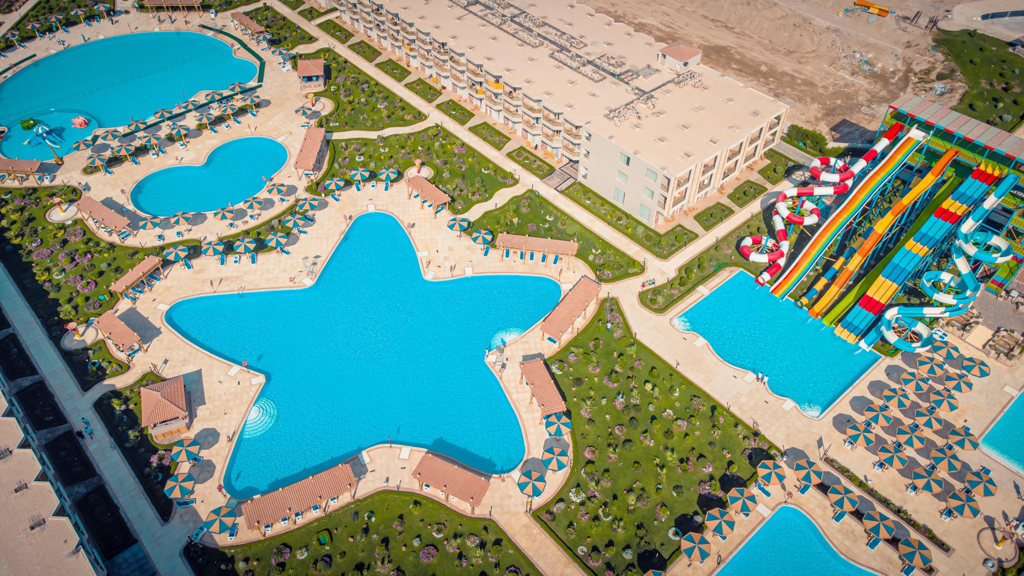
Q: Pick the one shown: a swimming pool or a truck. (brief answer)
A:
swimming pool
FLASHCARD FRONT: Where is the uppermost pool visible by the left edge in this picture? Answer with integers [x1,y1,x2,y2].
[0,29,259,163]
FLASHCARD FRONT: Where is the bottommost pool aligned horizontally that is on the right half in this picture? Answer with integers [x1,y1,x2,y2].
[706,501,891,576]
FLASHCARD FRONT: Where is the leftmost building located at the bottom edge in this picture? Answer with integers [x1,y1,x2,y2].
[0,381,107,576]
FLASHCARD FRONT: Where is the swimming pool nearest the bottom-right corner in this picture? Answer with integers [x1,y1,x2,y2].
[976,388,1024,482]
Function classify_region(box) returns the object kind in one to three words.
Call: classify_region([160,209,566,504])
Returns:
swimming pool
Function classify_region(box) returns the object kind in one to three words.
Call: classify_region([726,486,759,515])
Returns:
umbrella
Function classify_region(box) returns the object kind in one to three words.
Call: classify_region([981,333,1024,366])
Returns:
fountain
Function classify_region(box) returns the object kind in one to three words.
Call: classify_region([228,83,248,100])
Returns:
umbrella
